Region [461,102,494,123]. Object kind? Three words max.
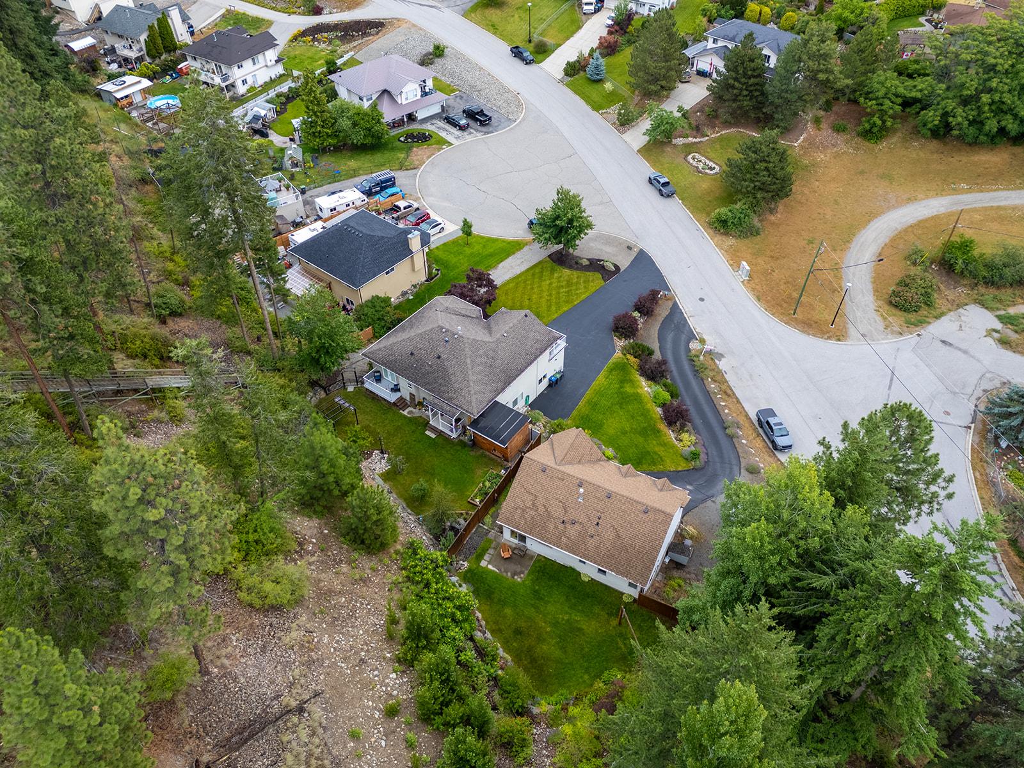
truck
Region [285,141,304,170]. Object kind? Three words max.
greenhouse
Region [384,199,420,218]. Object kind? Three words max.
vehicle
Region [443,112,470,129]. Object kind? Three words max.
car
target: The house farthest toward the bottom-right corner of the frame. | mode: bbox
[495,427,691,594]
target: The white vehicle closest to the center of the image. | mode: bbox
[423,218,446,235]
